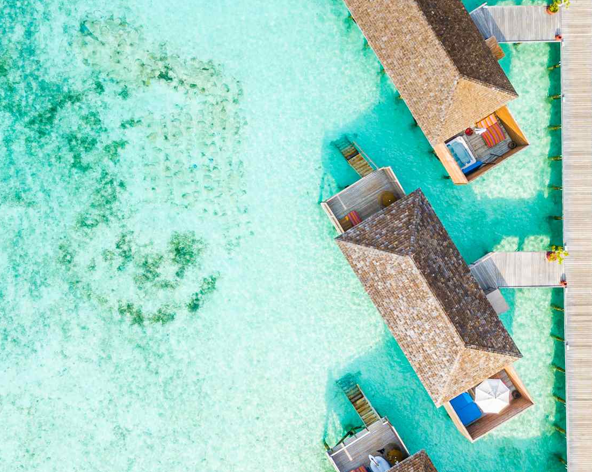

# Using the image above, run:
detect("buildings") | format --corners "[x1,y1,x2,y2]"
[331,0,528,183]
[320,367,438,472]
[315,133,527,439]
